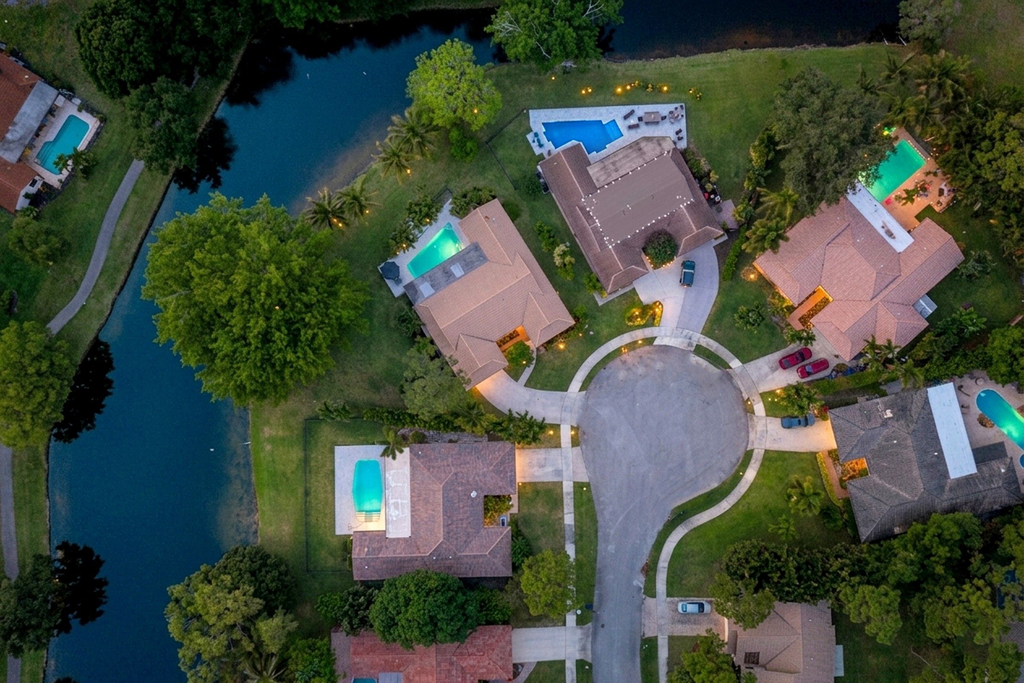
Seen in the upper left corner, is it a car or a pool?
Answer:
pool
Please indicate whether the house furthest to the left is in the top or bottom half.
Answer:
top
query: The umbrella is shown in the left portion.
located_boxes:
[380,261,401,281]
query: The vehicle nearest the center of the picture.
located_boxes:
[680,260,695,289]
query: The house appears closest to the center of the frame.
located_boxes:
[403,198,575,391]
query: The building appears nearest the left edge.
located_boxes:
[0,55,70,214]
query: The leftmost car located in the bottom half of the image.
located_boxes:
[676,598,711,616]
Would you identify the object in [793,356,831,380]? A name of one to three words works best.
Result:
car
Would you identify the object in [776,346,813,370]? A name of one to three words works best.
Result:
car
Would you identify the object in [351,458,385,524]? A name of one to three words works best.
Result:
swimming pool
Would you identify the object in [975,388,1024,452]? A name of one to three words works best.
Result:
swimming pool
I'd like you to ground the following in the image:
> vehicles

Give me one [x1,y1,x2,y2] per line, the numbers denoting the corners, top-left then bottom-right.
[680,260,695,289]
[793,356,831,380]
[776,346,813,370]
[778,414,816,430]
[676,598,711,616]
